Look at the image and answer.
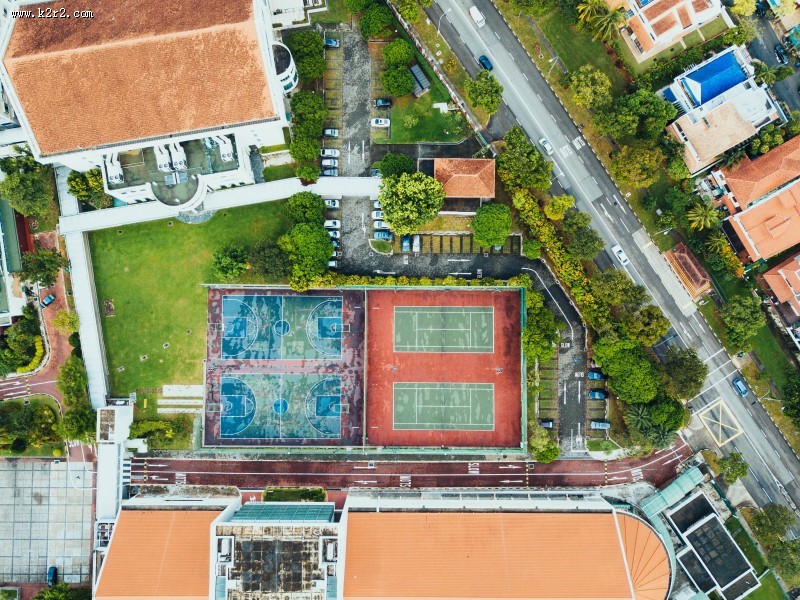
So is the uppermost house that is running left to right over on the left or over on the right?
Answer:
right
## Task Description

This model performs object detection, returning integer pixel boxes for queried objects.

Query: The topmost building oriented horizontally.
[599,0,721,57]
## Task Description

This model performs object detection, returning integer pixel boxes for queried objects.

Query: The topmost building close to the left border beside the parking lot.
[0,0,288,170]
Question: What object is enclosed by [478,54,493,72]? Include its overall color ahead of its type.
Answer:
blue car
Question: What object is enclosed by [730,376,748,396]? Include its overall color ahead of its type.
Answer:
blue car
